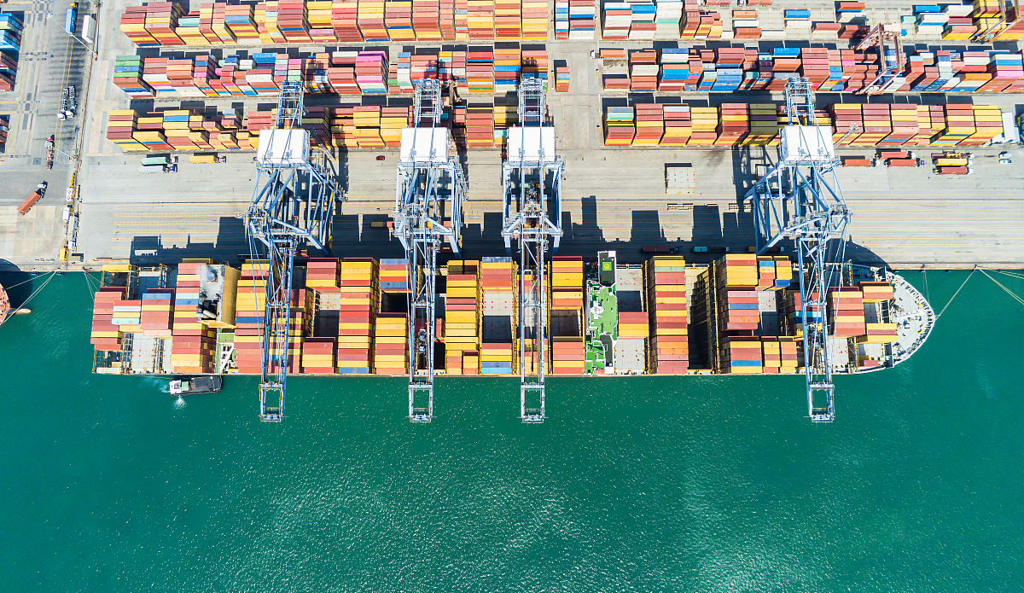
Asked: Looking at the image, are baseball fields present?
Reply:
No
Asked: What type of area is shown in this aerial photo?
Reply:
port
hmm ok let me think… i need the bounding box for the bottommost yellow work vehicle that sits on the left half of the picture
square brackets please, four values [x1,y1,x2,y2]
[57,247,71,260]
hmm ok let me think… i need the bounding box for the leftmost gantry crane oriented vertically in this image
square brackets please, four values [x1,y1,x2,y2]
[242,76,353,428]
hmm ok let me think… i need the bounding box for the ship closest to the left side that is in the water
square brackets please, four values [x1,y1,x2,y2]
[0,283,27,331]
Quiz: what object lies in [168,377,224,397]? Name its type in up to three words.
boat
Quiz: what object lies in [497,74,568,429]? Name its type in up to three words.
container crane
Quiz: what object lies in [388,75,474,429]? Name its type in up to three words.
container crane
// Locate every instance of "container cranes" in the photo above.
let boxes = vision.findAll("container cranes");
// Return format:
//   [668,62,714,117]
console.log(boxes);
[851,18,905,95]
[242,76,353,428]
[497,74,568,429]
[388,75,474,429]
[440,77,466,151]
[730,72,854,430]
